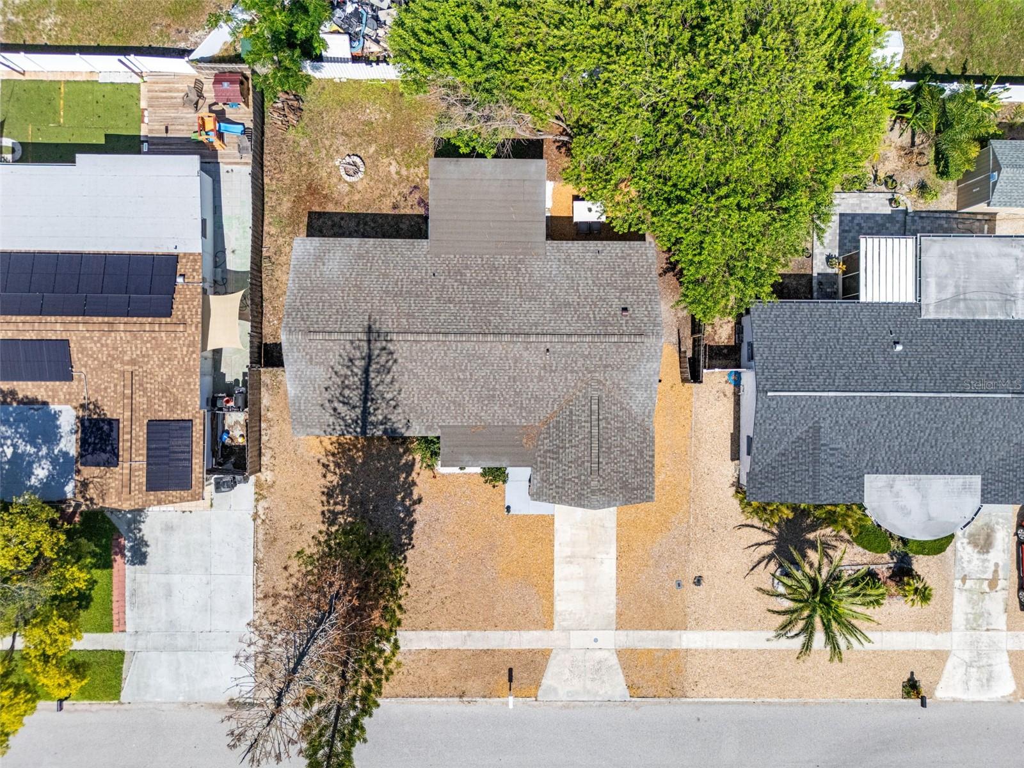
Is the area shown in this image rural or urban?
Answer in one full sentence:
From above, the setting appears urban.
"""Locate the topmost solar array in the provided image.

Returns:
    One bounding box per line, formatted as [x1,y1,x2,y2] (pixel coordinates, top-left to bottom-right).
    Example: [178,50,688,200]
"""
[0,254,177,315]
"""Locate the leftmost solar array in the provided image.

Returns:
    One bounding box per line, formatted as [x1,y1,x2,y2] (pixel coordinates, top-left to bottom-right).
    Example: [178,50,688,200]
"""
[0,340,77,382]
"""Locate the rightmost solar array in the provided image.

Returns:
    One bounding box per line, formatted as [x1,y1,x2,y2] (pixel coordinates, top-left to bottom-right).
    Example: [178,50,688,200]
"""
[143,421,193,492]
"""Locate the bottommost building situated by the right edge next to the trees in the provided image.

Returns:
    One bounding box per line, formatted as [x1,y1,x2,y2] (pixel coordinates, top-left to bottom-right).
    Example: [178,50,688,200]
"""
[743,234,1024,539]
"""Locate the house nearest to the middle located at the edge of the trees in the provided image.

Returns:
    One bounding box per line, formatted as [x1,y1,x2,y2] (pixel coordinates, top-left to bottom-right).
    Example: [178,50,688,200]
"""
[282,159,662,508]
